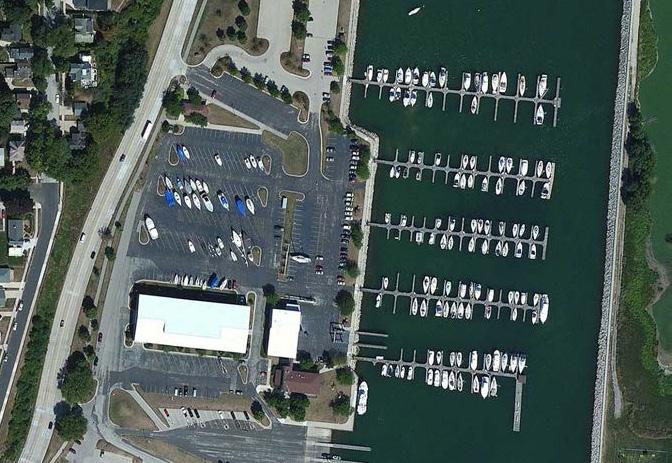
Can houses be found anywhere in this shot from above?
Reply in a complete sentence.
Yes, the frame does contain a house.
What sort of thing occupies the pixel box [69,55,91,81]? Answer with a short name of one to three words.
house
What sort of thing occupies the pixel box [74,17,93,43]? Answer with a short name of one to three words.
house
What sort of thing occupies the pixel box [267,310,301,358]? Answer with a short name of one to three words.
building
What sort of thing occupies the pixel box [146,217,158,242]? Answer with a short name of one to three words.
boat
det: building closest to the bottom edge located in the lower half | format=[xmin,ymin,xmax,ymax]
[274,365,321,397]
